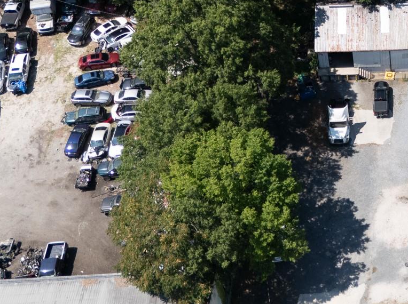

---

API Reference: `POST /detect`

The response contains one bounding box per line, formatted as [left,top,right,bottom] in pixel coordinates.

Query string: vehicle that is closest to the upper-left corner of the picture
[1,0,27,28]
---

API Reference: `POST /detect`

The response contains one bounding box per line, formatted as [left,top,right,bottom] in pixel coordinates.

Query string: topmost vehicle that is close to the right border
[373,79,392,116]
